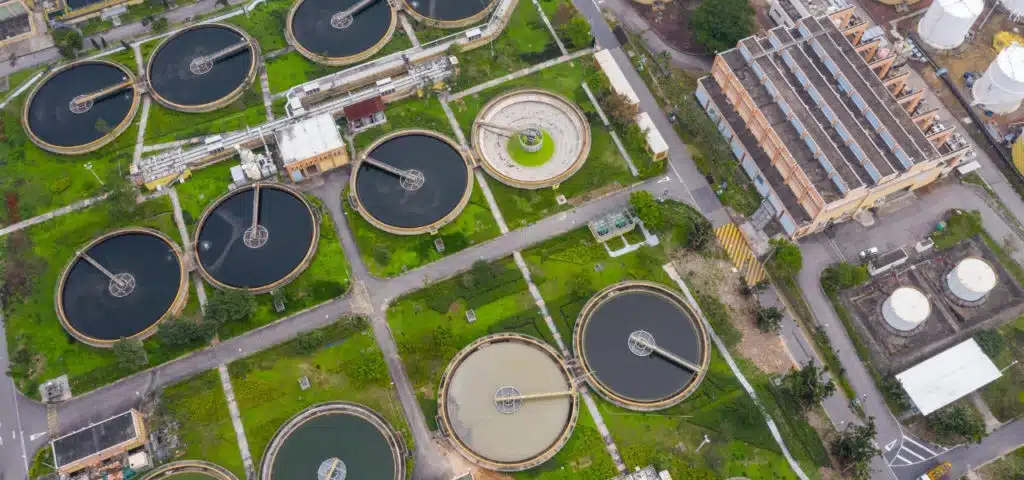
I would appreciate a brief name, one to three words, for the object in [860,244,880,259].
car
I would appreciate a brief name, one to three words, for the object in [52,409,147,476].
building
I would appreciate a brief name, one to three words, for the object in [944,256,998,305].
storage tank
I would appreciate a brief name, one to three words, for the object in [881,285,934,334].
storage tank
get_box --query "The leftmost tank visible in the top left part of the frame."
[23,59,143,155]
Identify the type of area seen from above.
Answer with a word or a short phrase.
industrial area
